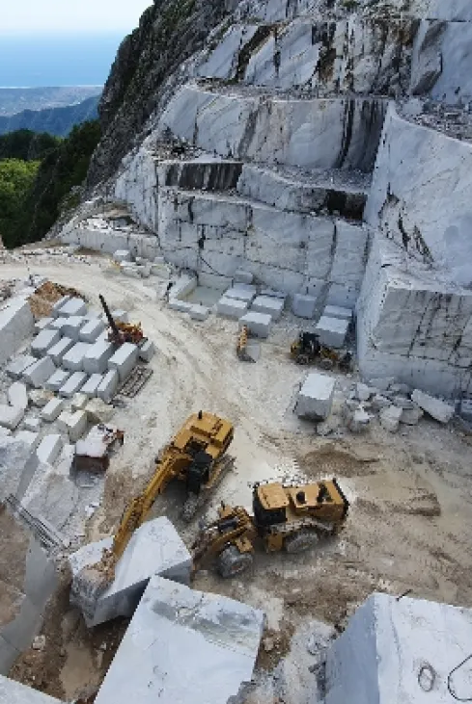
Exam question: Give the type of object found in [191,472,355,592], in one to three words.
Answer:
work vehicle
